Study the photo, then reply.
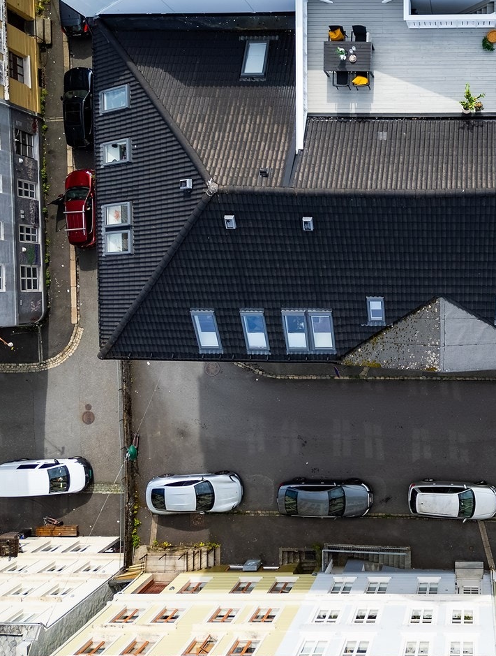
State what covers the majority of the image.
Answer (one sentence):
What you mostly see from above here is buildings.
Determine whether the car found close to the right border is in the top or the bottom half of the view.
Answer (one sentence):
Seen from above, the car found close to the right border lies in the bottom half of the view.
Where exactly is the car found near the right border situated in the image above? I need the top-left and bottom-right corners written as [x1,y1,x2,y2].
[409,478,496,525]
